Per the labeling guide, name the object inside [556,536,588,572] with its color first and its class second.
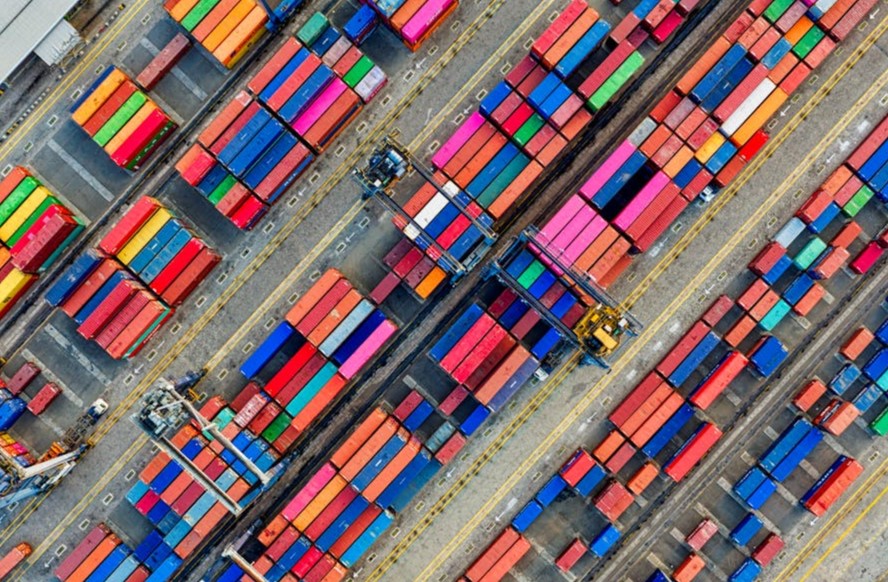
red shipping container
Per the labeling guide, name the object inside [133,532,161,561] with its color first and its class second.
blue shipping container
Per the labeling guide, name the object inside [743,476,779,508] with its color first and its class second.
blue shipping container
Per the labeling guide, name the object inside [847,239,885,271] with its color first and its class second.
red shipping container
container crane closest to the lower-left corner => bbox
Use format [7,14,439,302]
[0,439,91,518]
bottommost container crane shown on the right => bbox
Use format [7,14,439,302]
[481,224,645,374]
